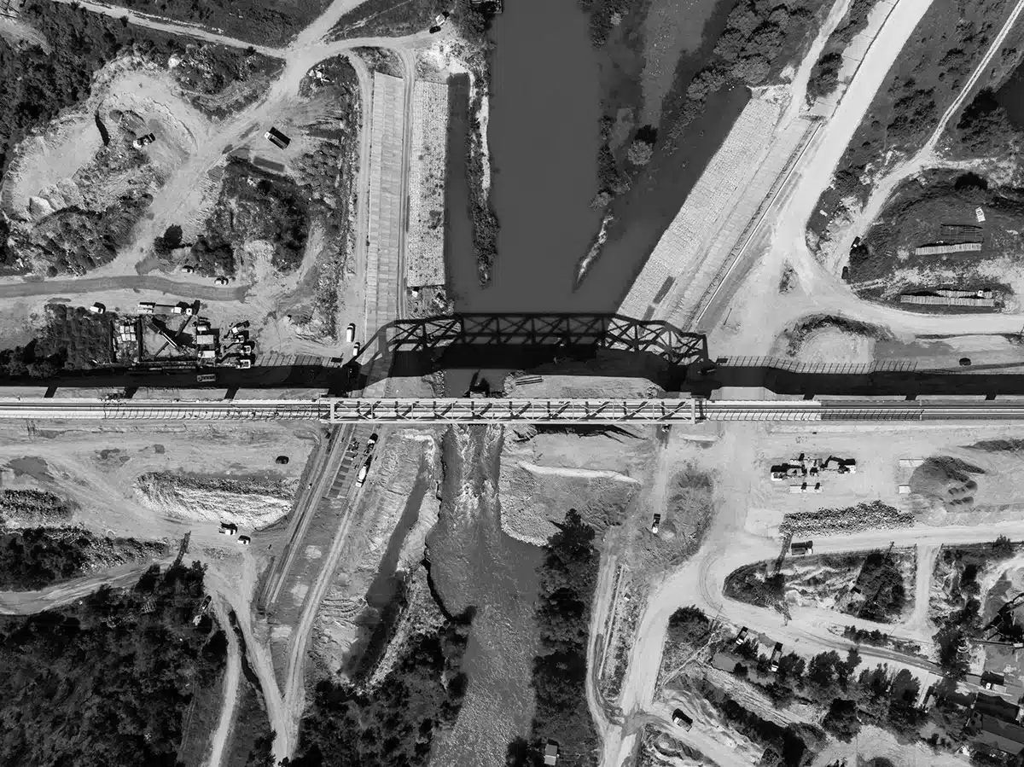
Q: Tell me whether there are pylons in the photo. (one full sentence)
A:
Yes, there is a pylon in the image.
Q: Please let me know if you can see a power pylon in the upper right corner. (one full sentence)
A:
No, no power pylon appears in the upper right corner.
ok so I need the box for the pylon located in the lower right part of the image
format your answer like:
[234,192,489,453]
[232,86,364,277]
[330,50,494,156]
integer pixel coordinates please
[762,587,803,620]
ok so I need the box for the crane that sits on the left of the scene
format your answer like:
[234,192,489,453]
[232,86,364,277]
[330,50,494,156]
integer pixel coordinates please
[138,318,192,361]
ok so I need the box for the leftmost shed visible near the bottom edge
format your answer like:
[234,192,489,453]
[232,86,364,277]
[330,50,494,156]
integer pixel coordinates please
[542,737,559,762]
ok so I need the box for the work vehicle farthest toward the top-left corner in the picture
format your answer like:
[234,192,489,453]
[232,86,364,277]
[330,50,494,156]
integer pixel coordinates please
[132,133,158,151]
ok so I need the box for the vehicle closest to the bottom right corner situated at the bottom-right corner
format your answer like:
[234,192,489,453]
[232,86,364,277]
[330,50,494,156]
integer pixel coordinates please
[982,677,1005,694]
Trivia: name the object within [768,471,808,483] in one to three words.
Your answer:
vehicle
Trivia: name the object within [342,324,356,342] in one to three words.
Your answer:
vehicle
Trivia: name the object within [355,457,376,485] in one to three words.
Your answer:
truck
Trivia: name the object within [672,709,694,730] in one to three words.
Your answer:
truck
